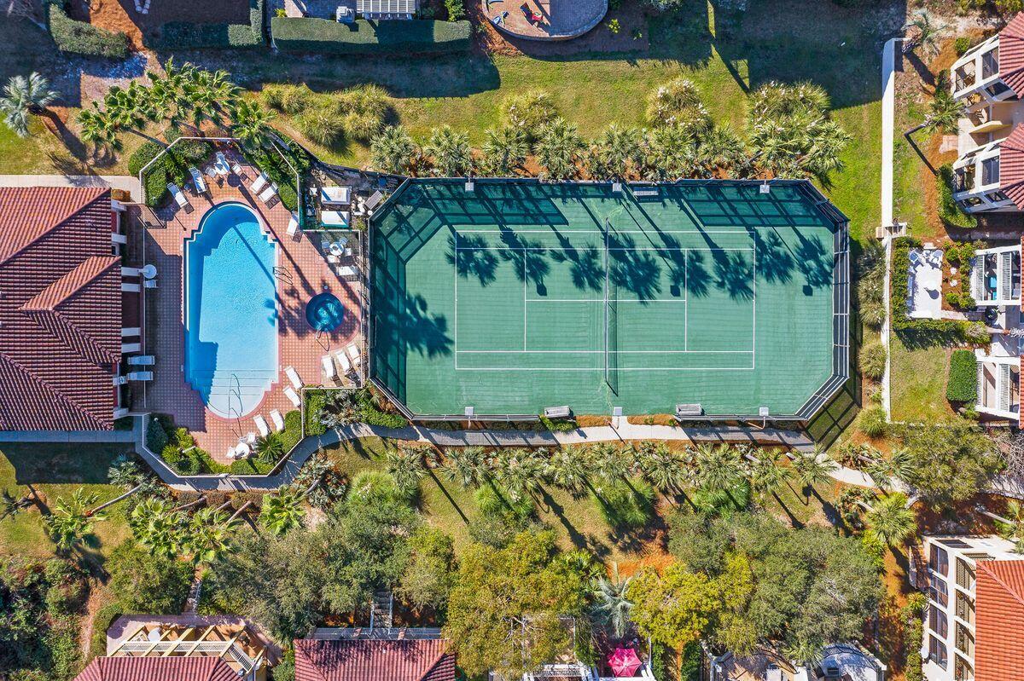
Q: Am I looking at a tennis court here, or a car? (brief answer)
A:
tennis court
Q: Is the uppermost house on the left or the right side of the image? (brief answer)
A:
right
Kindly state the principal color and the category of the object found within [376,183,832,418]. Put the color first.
green tennis court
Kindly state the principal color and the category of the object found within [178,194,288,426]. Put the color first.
blue swimming pool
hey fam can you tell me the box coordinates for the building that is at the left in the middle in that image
[0,185,141,432]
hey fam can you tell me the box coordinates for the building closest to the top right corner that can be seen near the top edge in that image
[953,10,1024,123]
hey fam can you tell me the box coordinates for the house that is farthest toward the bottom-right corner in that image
[926,538,1024,681]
